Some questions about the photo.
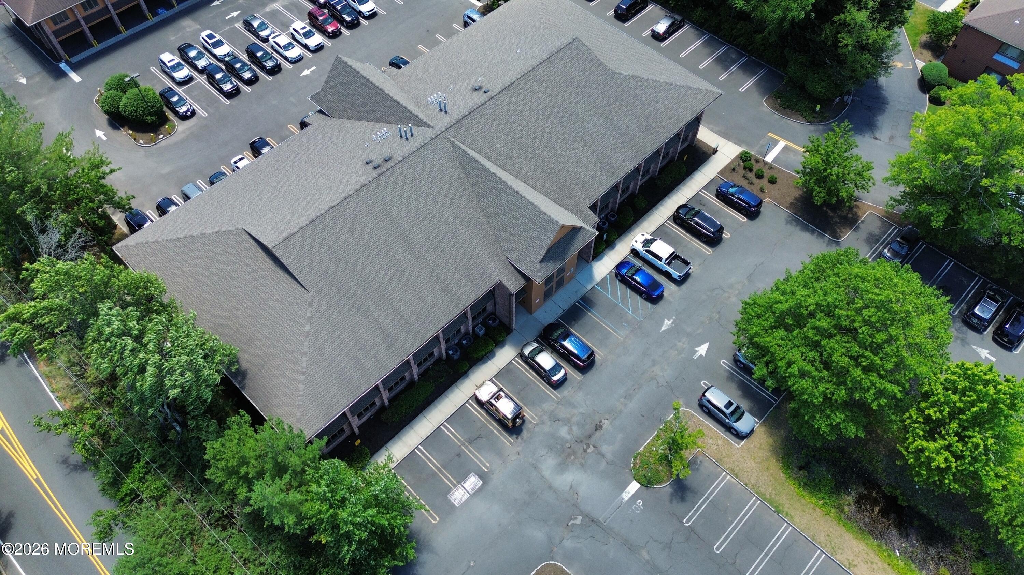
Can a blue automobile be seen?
Yes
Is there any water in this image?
No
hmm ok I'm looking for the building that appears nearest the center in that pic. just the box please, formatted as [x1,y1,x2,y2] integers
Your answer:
[111,0,724,458]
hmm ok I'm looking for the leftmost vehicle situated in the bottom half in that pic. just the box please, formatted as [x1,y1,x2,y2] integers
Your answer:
[471,378,526,430]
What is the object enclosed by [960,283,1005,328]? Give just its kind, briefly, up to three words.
car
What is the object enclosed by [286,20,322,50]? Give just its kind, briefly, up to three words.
car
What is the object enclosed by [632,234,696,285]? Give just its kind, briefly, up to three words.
truck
